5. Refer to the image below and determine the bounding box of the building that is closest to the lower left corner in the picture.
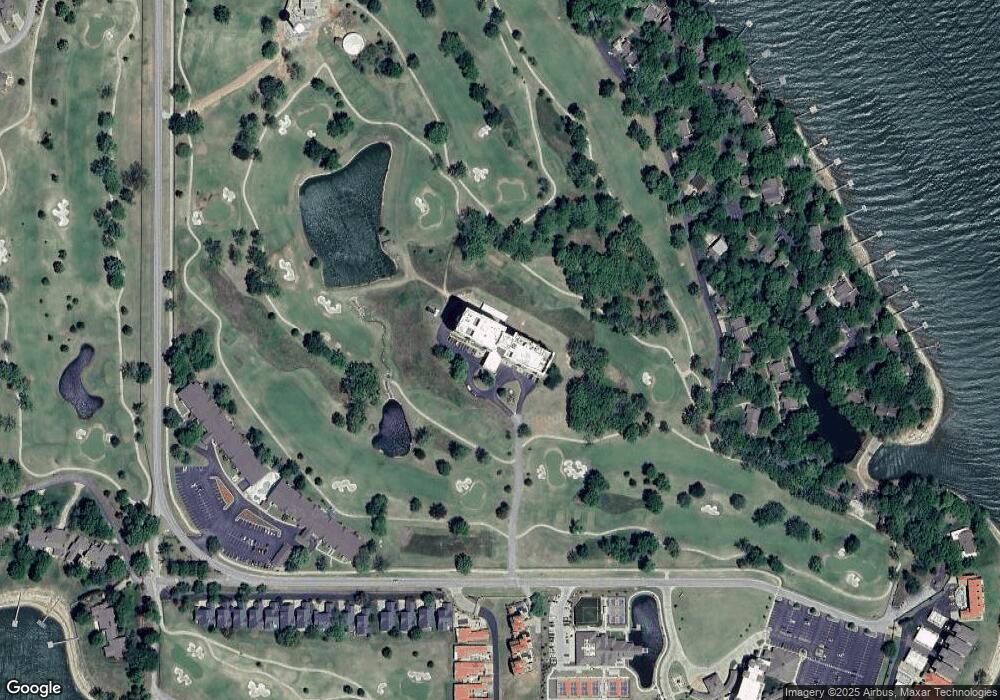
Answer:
[88,605,126,658]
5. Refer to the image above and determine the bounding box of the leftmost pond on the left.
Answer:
[59,344,104,419]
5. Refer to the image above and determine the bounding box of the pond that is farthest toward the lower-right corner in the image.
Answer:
[628,595,662,686]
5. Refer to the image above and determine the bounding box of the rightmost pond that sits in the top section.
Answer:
[299,142,396,286]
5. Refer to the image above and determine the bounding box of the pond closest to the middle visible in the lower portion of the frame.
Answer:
[372,398,411,457]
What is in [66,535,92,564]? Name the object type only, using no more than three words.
house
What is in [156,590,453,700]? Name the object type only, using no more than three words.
golf course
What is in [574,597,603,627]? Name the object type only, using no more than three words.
tennis court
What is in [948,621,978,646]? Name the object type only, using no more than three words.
building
